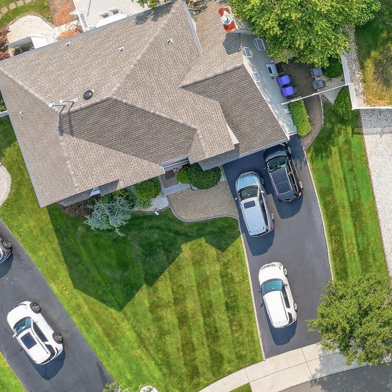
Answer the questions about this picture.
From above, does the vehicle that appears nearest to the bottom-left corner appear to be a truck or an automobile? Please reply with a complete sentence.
What you see as the vehicle that appears nearest to the bottom-left corner is an automobile.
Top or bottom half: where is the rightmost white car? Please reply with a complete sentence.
It is in the bottom half that the rightmost white car appears.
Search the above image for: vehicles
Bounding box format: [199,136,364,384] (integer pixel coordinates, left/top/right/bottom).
[236,168,276,239]
[259,258,300,332]
[264,139,305,206]
[12,296,65,367]
[0,241,10,265]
